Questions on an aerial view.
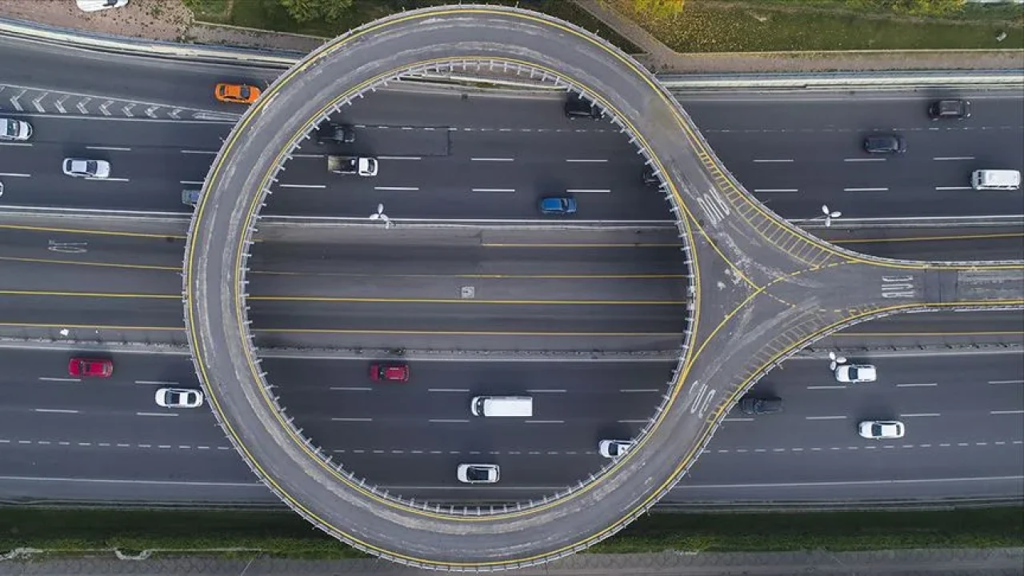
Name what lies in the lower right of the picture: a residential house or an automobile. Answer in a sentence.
Visible in the lower right of the picture is an automobile.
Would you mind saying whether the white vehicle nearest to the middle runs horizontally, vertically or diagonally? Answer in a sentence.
What the image shows is the white vehicle nearest to the middle lying horizontally.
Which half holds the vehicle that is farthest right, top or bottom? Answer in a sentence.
The top half of the photo is where the vehicle that is farthest right is.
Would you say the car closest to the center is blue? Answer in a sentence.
Yes, the car closest to the center appears blue.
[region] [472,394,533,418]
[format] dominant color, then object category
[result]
white vehicle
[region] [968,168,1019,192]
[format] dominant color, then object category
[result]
white vehicle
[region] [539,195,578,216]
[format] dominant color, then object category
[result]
blue car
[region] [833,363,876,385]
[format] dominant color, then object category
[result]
white car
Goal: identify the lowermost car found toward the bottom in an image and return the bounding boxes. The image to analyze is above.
[458,463,500,486]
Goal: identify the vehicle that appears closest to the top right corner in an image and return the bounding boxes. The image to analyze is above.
[926,97,972,121]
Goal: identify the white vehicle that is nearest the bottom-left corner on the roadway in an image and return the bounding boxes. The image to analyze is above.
[156,387,204,410]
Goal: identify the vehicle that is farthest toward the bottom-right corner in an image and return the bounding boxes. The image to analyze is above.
[857,419,903,441]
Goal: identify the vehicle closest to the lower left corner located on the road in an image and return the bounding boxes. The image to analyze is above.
[69,357,115,379]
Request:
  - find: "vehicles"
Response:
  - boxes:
[0,118,35,140]
[182,188,204,206]
[833,363,876,385]
[739,395,783,417]
[472,394,533,418]
[563,96,608,117]
[70,0,129,13]
[69,357,115,379]
[539,195,578,216]
[215,82,262,104]
[328,155,378,178]
[598,438,636,459]
[857,419,903,441]
[968,168,1019,192]
[642,167,667,186]
[312,122,357,144]
[62,157,112,179]
[926,97,972,121]
[458,463,500,486]
[370,362,410,384]
[156,387,204,410]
